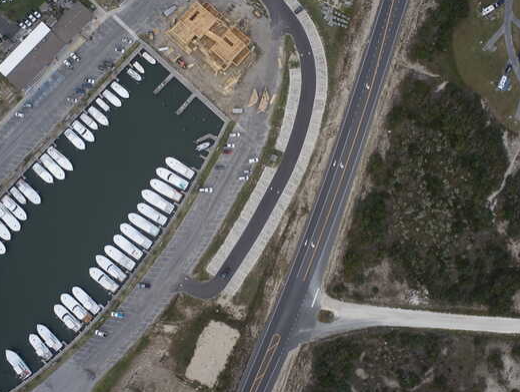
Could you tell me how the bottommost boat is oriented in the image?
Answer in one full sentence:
I'd say the bottommost boat is aligned at an angle in the picture.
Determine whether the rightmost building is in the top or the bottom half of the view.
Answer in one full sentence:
The rightmost building sits in the top half of the picture.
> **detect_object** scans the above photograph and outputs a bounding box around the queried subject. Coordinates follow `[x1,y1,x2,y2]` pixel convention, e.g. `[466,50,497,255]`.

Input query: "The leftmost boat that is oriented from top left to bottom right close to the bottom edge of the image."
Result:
[5,350,32,384]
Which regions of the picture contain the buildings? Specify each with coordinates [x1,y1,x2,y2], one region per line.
[165,0,250,68]
[6,1,91,91]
